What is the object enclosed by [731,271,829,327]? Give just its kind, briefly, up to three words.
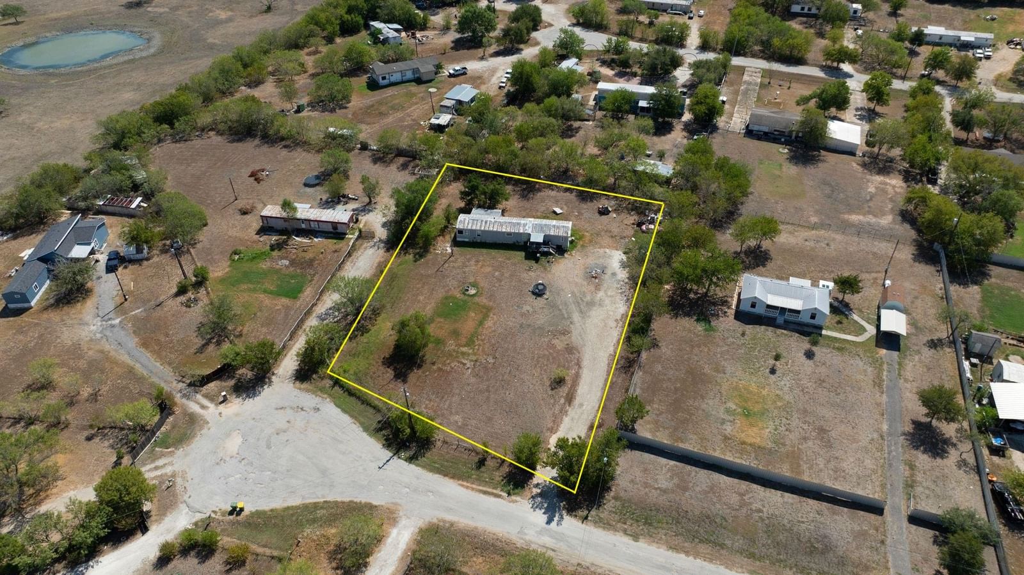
house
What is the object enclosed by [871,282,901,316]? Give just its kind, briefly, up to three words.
building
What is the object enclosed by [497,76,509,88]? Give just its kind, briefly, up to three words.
vehicle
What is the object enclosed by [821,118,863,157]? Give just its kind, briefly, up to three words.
barn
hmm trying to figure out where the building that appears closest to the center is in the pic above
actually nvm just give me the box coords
[456,206,576,256]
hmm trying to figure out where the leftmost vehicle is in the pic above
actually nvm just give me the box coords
[102,246,120,269]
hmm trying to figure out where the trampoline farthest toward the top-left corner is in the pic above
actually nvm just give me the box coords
[302,174,322,189]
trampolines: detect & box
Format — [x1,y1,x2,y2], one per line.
[302,174,322,189]
[532,282,547,296]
